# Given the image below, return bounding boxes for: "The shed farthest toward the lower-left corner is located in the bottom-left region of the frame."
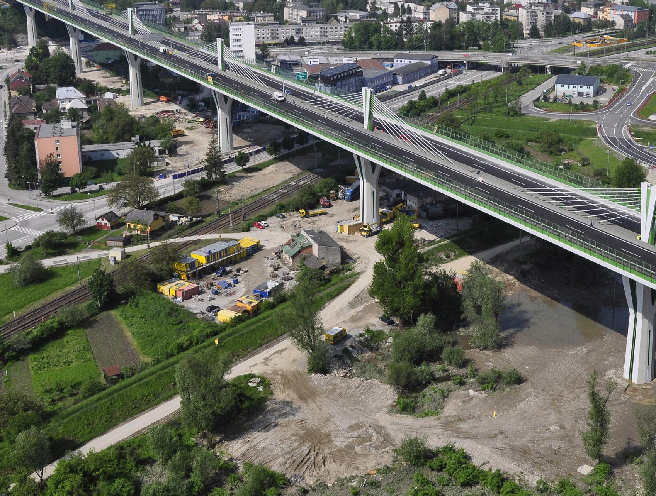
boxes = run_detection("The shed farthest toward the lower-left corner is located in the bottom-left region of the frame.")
[99,361,122,381]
